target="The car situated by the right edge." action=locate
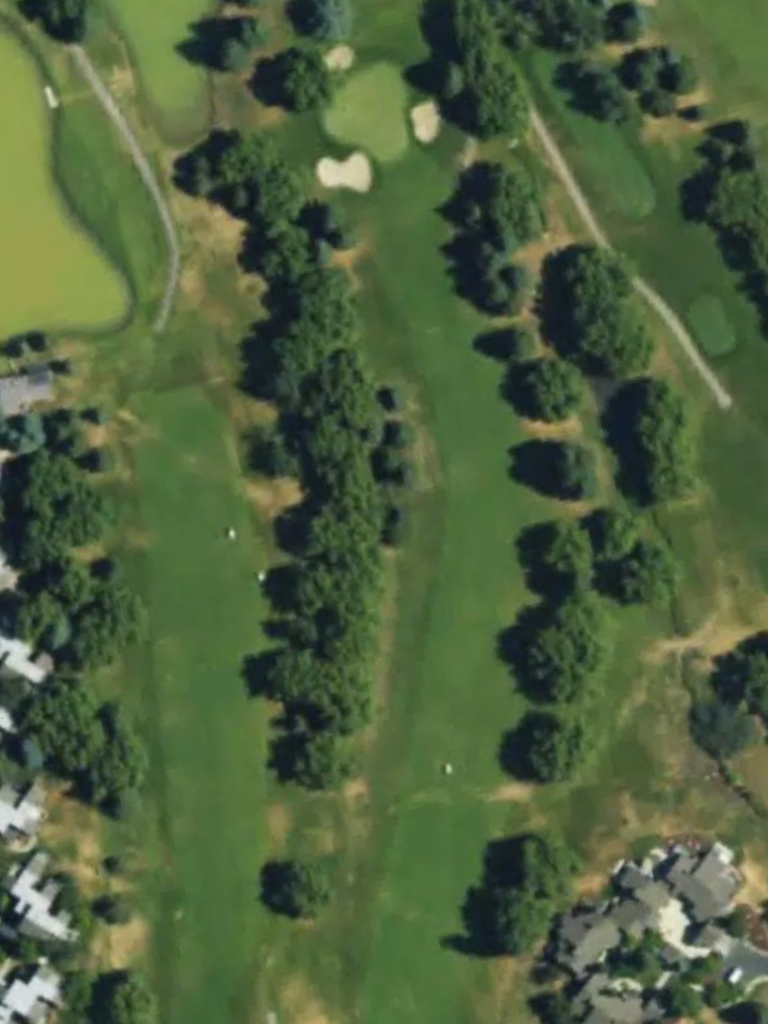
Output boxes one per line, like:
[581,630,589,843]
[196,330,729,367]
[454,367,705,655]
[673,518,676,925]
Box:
[730,967,742,983]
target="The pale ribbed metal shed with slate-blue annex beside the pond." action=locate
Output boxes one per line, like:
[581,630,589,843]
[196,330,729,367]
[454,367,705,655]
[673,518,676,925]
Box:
[0,365,55,417]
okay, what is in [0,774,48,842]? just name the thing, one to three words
house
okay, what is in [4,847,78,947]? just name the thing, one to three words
house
